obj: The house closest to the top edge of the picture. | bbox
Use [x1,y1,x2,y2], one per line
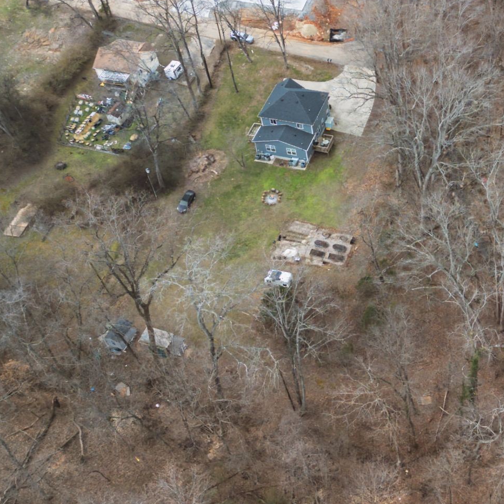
[91,28,163,94]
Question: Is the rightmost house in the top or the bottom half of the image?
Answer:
top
